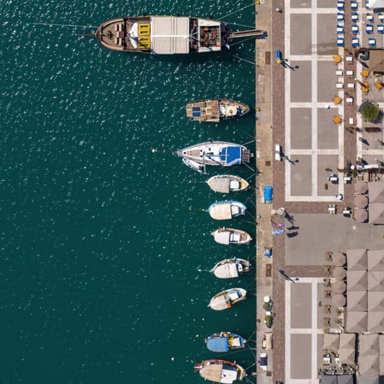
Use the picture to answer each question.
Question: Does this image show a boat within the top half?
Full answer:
Yes, a boat appears within the top half.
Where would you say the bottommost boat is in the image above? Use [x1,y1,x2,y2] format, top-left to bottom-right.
[196,361,246,384]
